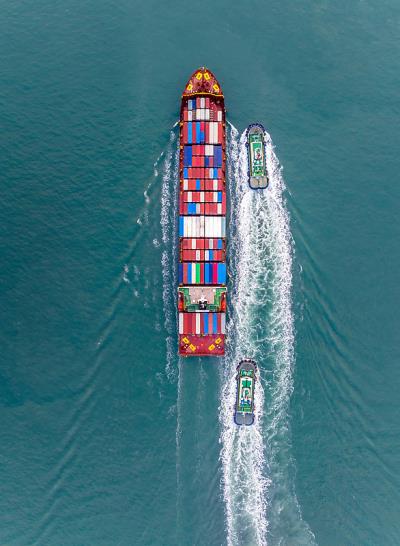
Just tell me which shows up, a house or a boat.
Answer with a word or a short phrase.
boat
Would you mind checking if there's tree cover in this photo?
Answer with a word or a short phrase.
No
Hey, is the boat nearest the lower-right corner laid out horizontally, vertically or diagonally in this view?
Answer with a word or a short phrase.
vertically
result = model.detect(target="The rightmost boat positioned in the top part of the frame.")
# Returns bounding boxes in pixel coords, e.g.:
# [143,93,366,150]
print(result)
[246,122,269,189]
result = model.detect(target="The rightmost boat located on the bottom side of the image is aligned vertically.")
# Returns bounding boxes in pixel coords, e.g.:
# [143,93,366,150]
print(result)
[234,359,257,424]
